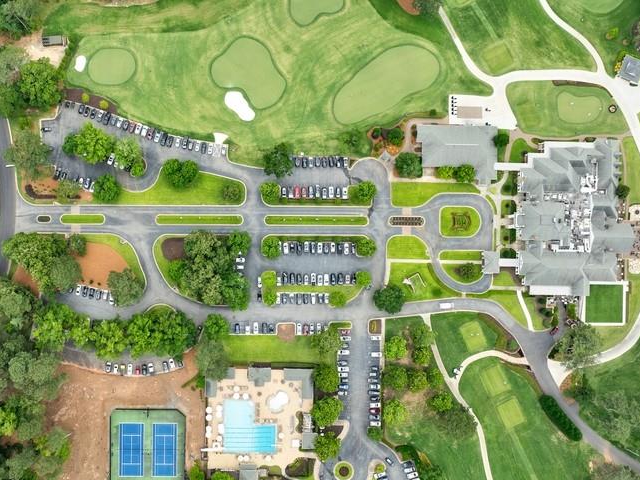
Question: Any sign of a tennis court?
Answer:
Yes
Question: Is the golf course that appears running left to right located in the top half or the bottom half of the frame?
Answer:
top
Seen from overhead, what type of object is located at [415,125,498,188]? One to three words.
barn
